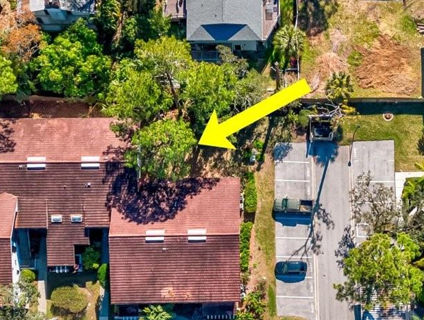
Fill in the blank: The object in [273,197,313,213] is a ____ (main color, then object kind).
gray vehicle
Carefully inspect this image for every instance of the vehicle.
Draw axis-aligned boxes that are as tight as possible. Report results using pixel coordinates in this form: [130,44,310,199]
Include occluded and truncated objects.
[273,197,313,213]
[274,261,307,277]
